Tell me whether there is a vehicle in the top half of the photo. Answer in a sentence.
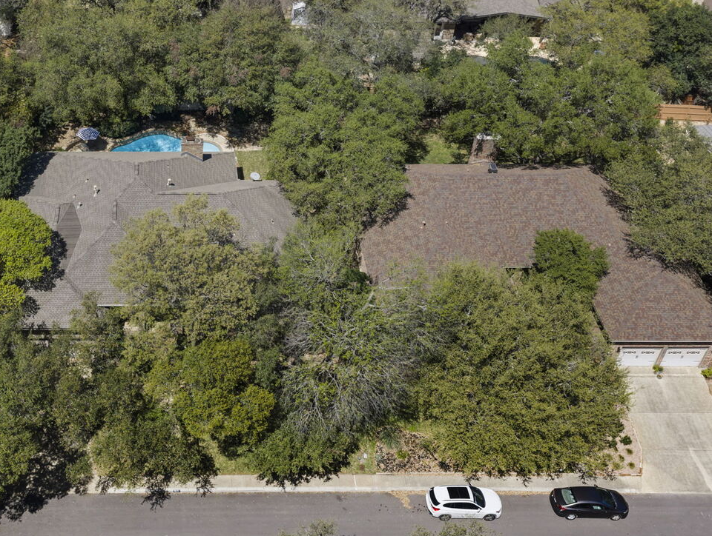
No, no vehicle can be made out in the top half of the photo.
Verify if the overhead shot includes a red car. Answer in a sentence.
No, there's no red car here.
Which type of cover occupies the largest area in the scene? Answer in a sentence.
What you mostly see from above here is trees.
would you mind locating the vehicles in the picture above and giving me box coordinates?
[426,482,504,521]
[549,482,632,521]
